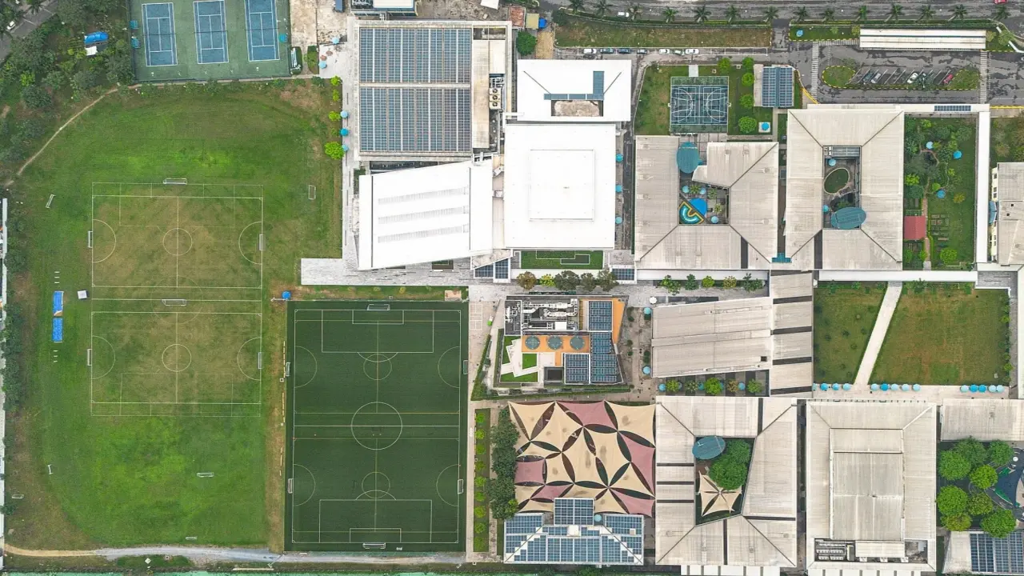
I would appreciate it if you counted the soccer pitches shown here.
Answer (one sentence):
Looking from above, you can make out 2 soccer pitches.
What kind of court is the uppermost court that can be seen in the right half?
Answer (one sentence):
What you see as the uppermost court that can be seen in the right half is a basketball court.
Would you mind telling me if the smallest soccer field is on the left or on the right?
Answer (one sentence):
The smallest soccer field is on the left side of the image.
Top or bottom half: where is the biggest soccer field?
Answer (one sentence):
The biggest soccer field sits in the bottom half of the picture.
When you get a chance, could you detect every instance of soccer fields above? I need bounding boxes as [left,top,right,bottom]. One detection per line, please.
[284,300,468,553]
[91,183,263,416]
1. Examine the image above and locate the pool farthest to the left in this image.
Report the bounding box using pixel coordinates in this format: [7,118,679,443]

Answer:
[679,201,705,224]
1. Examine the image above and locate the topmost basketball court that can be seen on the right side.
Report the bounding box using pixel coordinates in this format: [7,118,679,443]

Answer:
[670,76,729,133]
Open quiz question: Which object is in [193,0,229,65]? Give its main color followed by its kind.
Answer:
blue tennis court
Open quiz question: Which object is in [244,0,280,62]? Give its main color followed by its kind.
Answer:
blue tennis court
